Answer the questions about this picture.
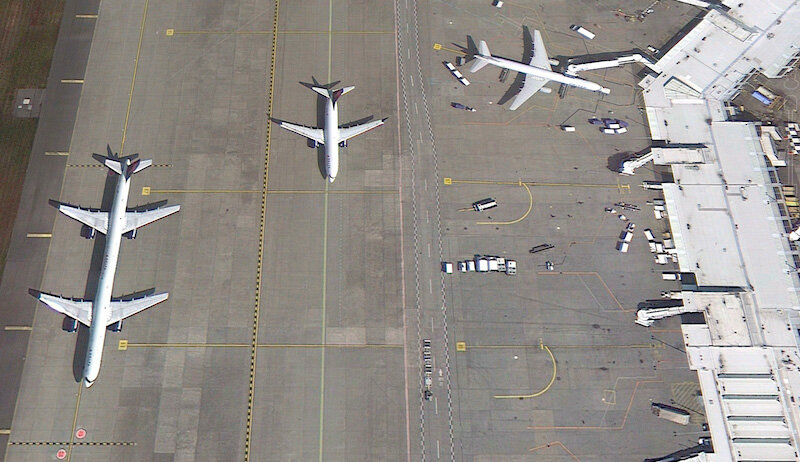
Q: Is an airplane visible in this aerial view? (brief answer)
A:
Yes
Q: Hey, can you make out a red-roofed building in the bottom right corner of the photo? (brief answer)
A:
No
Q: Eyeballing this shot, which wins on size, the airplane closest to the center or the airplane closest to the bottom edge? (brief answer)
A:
the airplane closest to the bottom edge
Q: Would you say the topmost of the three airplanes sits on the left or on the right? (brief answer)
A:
right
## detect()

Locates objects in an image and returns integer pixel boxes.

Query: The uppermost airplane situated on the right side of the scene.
[472,27,610,109]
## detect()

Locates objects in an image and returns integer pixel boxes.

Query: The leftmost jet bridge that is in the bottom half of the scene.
[632,306,686,328]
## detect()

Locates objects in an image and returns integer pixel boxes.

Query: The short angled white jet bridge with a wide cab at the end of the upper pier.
[618,151,655,179]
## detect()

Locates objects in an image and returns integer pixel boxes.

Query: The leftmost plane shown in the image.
[37,149,174,388]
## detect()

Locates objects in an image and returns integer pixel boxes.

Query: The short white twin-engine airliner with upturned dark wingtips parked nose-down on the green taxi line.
[277,74,388,182]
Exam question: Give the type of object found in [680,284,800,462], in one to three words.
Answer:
building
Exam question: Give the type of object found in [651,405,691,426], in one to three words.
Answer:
truck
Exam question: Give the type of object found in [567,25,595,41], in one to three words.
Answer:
vehicle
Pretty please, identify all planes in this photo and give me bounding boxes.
[37,149,174,388]
[472,27,610,109]
[277,74,388,182]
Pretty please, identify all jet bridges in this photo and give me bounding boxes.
[565,53,661,77]
[676,451,716,462]
[618,151,655,179]
[659,0,713,13]
[632,306,686,328]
